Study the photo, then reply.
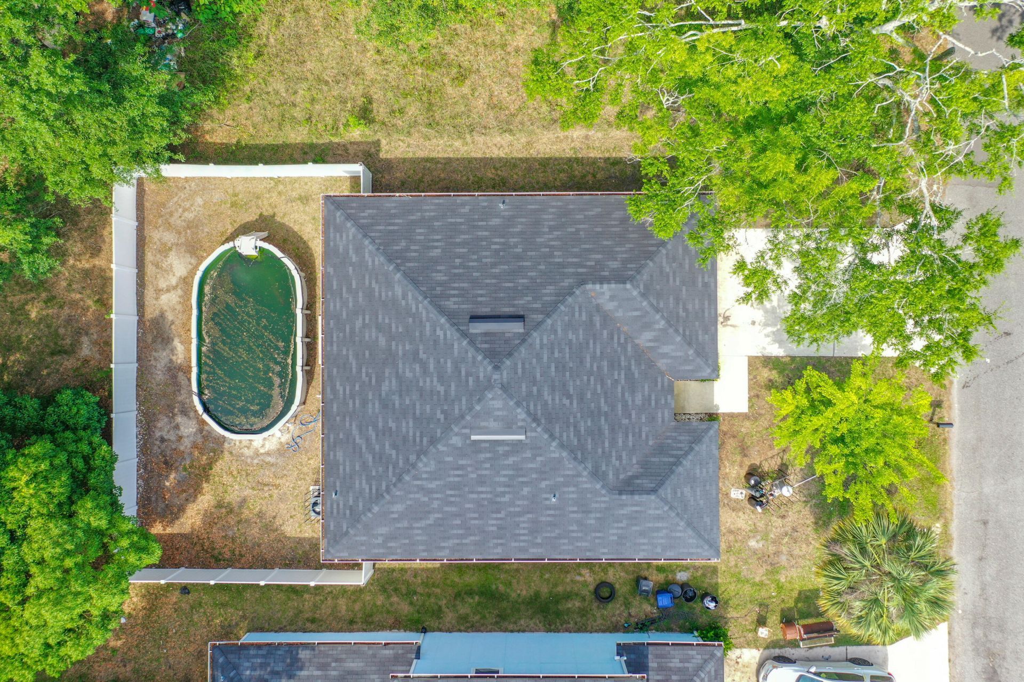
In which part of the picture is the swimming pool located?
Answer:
left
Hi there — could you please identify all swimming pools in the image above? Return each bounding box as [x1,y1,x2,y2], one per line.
[188,242,320,438]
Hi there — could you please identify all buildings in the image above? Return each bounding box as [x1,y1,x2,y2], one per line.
[319,191,722,563]
[207,629,726,682]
